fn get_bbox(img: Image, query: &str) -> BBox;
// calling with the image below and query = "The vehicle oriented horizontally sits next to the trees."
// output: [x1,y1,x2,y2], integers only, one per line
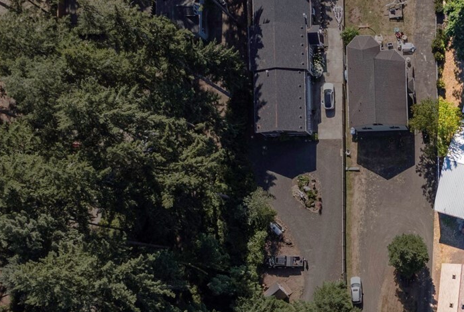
[269,255,306,269]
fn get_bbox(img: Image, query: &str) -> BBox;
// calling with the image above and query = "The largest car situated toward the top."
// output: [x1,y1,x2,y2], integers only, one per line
[322,83,335,110]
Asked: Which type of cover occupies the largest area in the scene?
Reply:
trees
